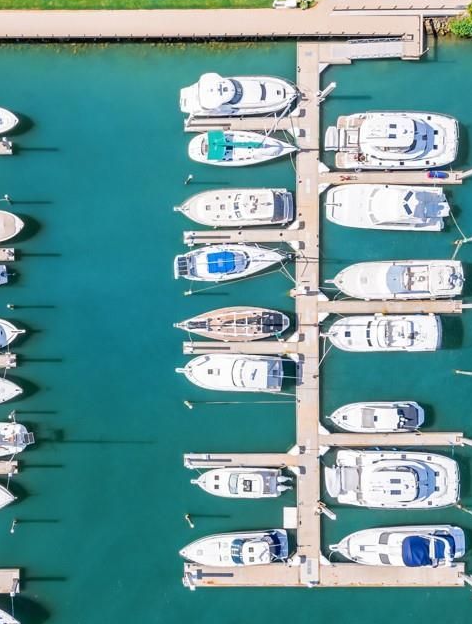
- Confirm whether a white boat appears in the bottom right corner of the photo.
Yes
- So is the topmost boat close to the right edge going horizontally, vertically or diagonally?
horizontally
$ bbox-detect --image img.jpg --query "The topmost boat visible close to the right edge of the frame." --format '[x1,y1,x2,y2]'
[327,111,459,172]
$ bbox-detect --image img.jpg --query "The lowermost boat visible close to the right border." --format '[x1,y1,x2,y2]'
[328,523,464,565]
